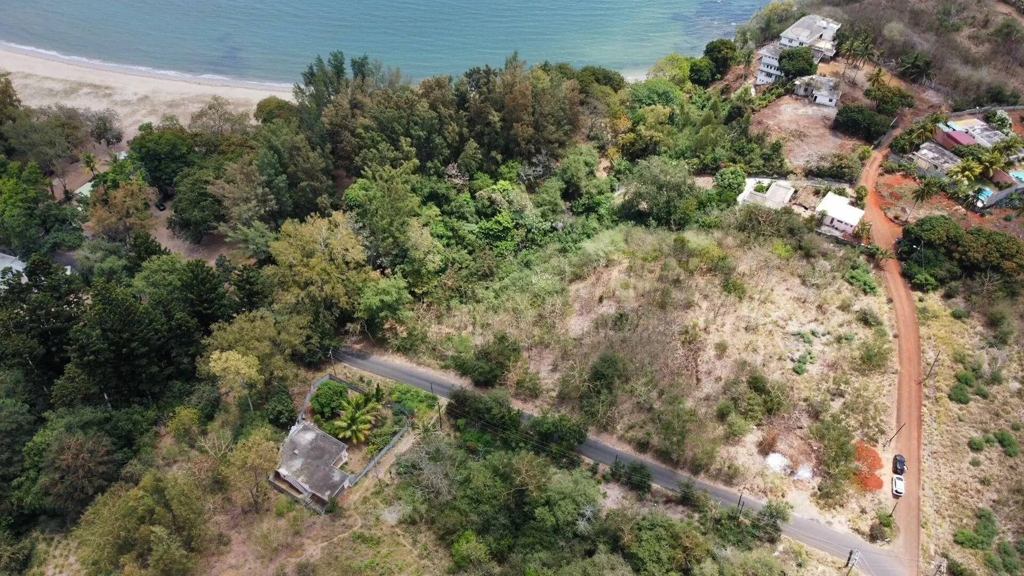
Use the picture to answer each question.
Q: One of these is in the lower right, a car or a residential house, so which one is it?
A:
car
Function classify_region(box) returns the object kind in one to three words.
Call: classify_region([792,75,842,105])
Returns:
building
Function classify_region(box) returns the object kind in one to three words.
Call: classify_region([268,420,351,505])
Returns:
house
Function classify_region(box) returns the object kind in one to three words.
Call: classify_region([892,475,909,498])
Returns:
car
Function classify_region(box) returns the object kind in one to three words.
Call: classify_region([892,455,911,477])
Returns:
car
